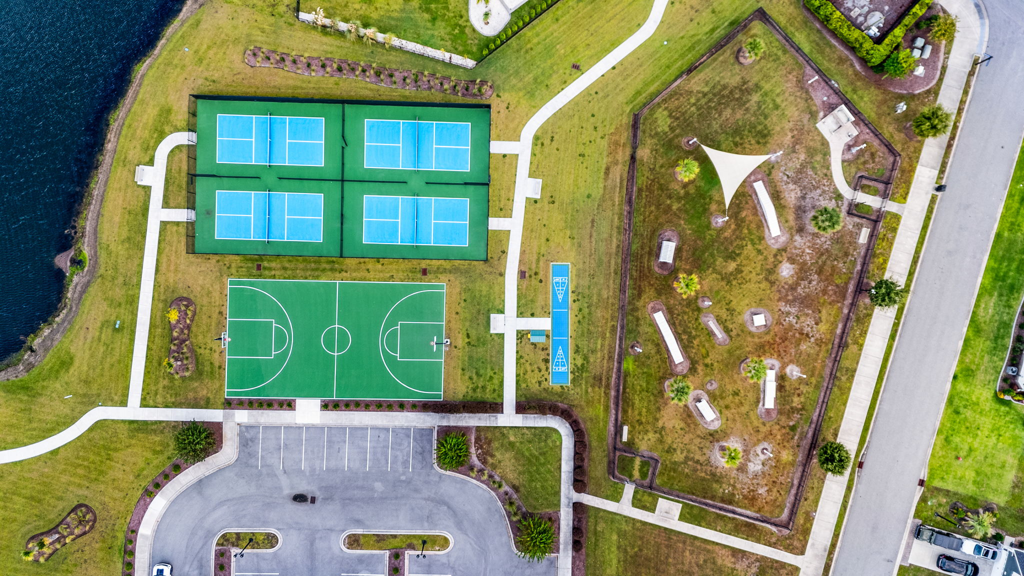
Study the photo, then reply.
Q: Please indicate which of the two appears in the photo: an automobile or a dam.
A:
automobile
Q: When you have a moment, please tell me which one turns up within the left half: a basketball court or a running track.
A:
basketball court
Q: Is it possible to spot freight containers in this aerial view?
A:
No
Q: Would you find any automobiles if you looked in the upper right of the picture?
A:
No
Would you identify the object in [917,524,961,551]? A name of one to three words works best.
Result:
car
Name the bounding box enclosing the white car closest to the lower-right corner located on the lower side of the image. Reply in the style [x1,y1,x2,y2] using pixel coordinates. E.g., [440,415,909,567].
[959,535,998,559]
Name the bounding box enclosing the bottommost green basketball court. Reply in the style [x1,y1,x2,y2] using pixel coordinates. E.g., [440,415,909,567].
[225,278,446,401]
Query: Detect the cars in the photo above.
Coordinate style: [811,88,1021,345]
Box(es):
[959,535,998,559]
[153,564,171,576]
[917,524,961,551]
[938,554,980,576]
